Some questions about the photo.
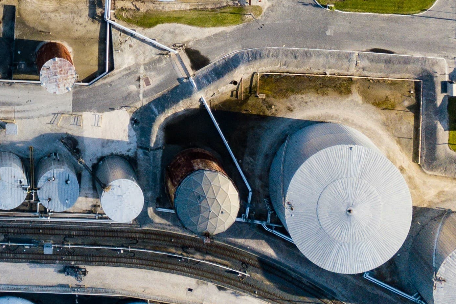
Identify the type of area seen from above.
industrial area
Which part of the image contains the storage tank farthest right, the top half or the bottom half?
bottom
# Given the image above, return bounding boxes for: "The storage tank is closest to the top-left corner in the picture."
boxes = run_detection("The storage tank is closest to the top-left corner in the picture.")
[35,41,77,95]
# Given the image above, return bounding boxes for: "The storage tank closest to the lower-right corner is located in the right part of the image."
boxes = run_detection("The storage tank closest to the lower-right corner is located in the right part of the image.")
[406,208,456,304]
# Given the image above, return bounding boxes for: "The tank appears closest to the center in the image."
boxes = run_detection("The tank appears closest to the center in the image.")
[163,147,241,243]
